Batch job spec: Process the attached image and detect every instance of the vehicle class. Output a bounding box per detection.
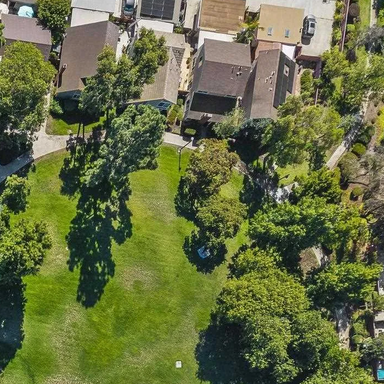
[303,11,318,37]
[122,0,136,14]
